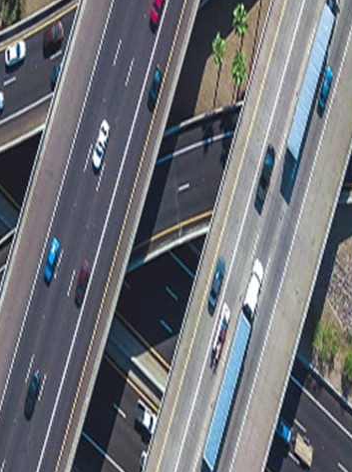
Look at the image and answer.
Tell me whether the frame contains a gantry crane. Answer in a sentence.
No, the frame has no gantry crane in it.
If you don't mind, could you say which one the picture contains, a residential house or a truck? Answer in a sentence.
This aerial view contains a truck.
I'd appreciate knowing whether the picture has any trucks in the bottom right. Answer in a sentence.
Yes, the scene does show a truck in the bottom right.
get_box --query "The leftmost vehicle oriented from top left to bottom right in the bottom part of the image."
[132,395,155,431]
